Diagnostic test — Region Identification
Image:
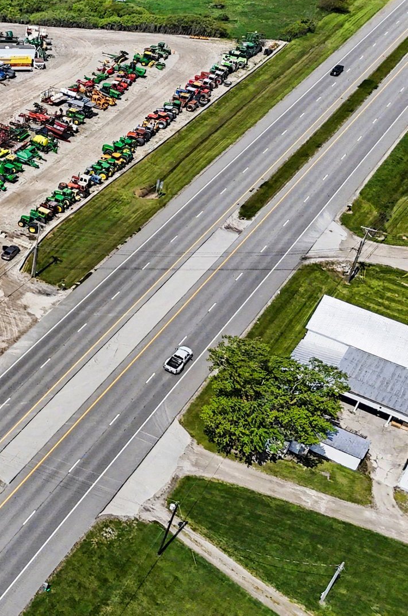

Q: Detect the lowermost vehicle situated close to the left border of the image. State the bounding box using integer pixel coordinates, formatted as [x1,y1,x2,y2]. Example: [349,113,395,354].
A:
[0,245,22,260]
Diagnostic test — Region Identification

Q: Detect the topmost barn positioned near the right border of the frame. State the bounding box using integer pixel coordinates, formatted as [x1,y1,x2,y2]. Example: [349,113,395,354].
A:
[290,295,408,426]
